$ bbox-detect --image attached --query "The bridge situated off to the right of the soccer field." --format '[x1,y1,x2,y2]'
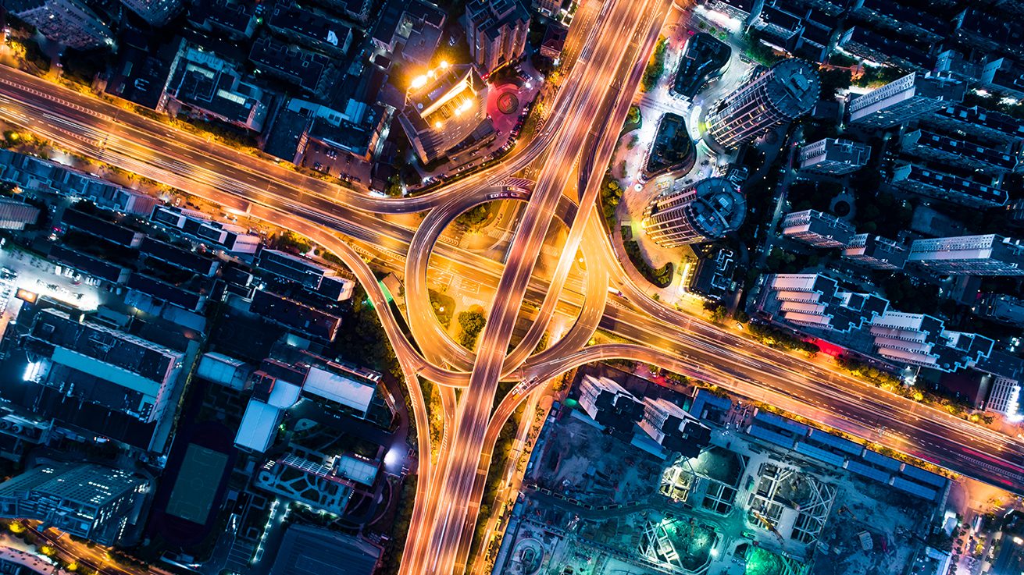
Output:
[423,0,648,575]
